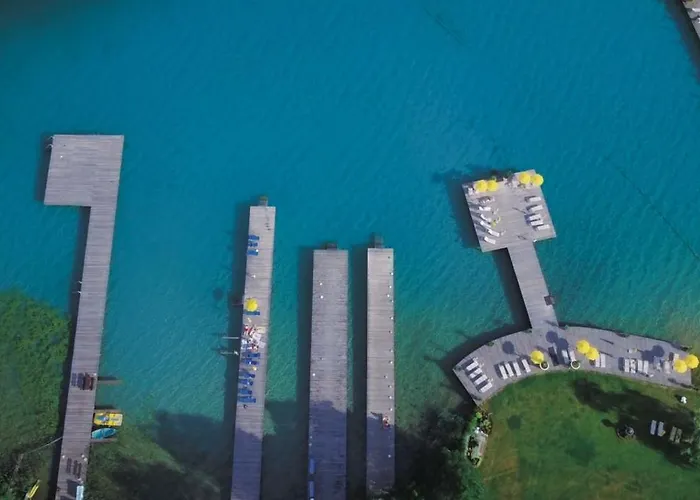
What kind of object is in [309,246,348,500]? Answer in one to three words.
pier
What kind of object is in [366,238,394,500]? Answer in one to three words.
pier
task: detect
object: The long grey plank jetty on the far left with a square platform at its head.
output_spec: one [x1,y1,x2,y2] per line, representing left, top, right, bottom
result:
[42,135,124,500]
